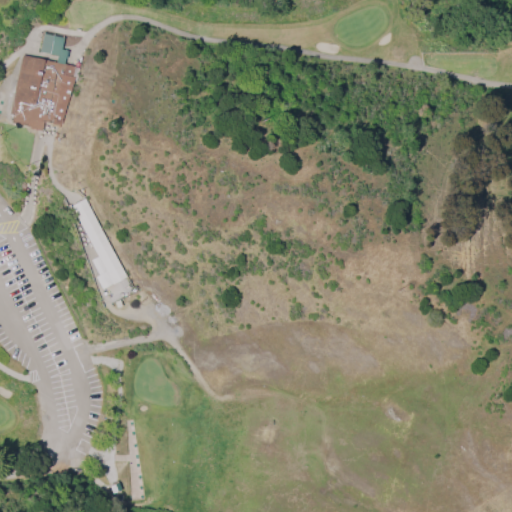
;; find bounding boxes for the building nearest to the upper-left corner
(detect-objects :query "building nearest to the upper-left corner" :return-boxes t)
[42,32,70,64]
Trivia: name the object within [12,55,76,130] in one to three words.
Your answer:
building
